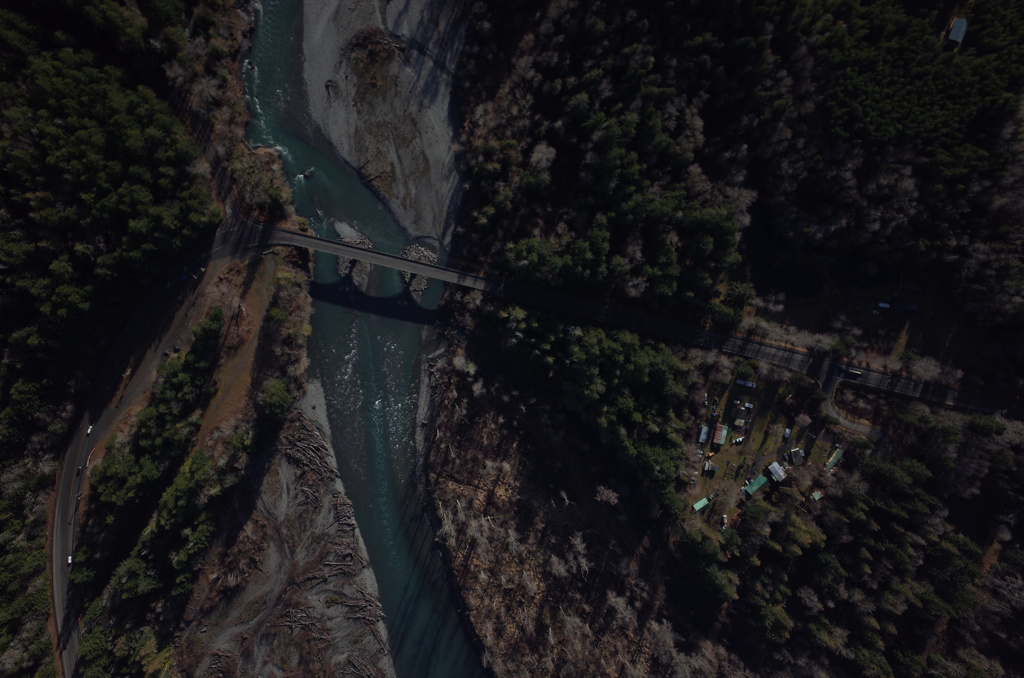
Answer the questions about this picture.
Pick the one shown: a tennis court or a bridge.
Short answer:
bridge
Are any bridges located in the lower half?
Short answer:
No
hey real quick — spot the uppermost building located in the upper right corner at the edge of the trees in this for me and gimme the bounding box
[945,19,967,45]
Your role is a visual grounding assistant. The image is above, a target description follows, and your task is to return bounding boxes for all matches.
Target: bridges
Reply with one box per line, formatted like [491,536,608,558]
[288,231,488,290]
